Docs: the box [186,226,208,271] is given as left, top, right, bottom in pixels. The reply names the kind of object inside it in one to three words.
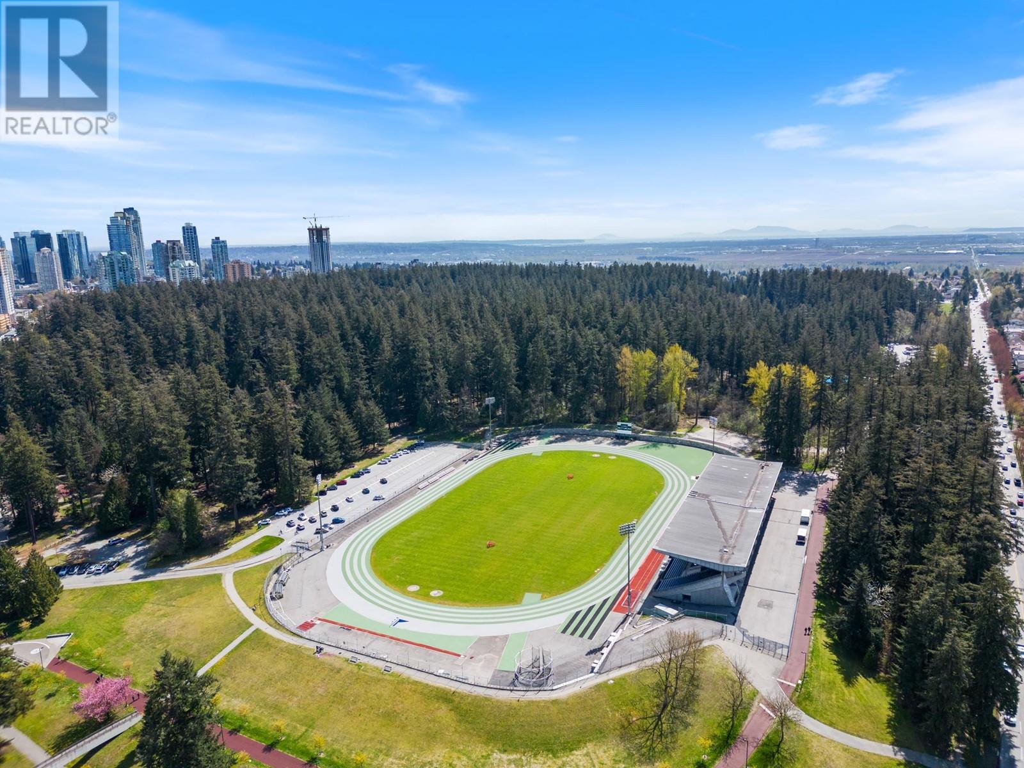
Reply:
building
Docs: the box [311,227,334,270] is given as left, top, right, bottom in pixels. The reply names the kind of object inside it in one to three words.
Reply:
building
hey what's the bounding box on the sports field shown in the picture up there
[376,451,661,605]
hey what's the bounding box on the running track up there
[339,444,690,627]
